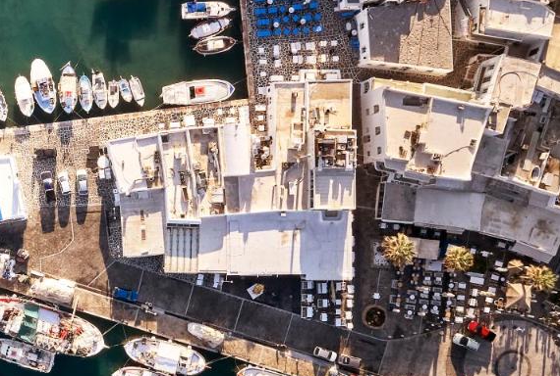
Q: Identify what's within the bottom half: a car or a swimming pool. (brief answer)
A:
car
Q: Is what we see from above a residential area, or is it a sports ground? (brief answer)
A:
residential area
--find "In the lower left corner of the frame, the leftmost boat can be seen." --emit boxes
[0,343,54,375]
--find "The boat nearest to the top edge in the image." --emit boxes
[181,0,238,20]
